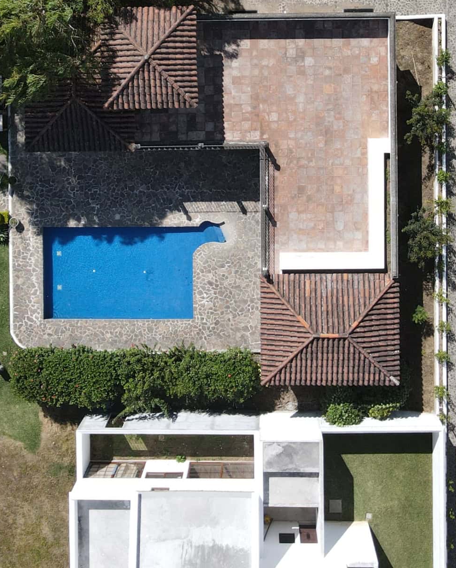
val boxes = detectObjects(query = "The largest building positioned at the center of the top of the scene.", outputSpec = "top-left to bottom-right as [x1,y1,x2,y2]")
[133,8,396,277]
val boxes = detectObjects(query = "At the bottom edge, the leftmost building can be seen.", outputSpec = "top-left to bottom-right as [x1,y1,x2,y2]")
[68,411,325,568]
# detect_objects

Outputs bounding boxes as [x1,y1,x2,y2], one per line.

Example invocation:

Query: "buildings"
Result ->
[68,411,325,568]
[133,8,396,277]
